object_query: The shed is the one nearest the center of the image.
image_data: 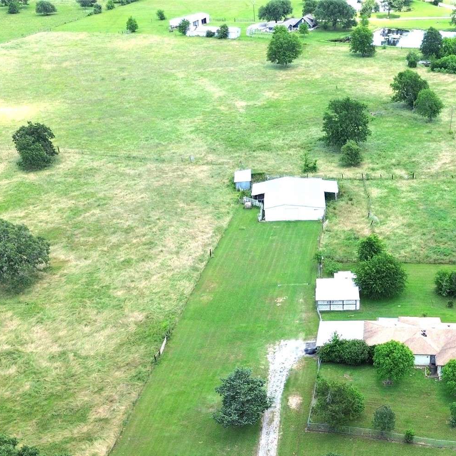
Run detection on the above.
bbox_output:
[234,169,253,191]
